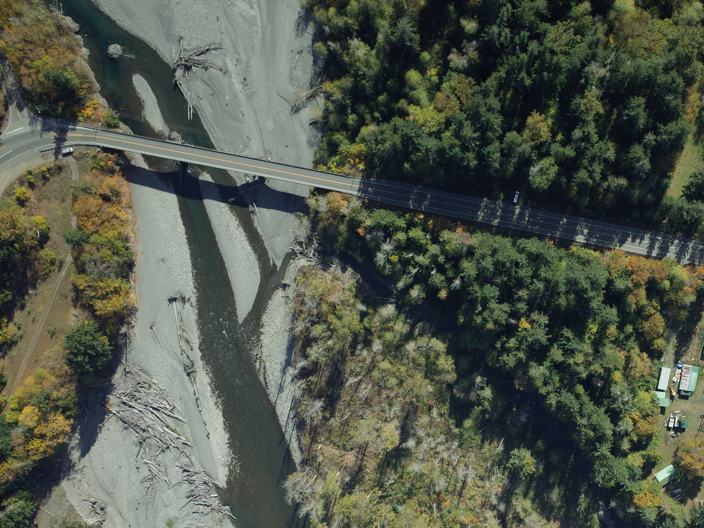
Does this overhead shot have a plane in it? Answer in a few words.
No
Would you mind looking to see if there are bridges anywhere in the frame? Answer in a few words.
Yes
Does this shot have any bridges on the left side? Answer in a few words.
Yes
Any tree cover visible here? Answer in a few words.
Yes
